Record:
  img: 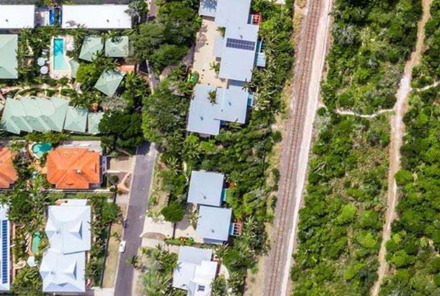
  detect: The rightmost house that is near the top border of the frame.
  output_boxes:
[199,0,265,80]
